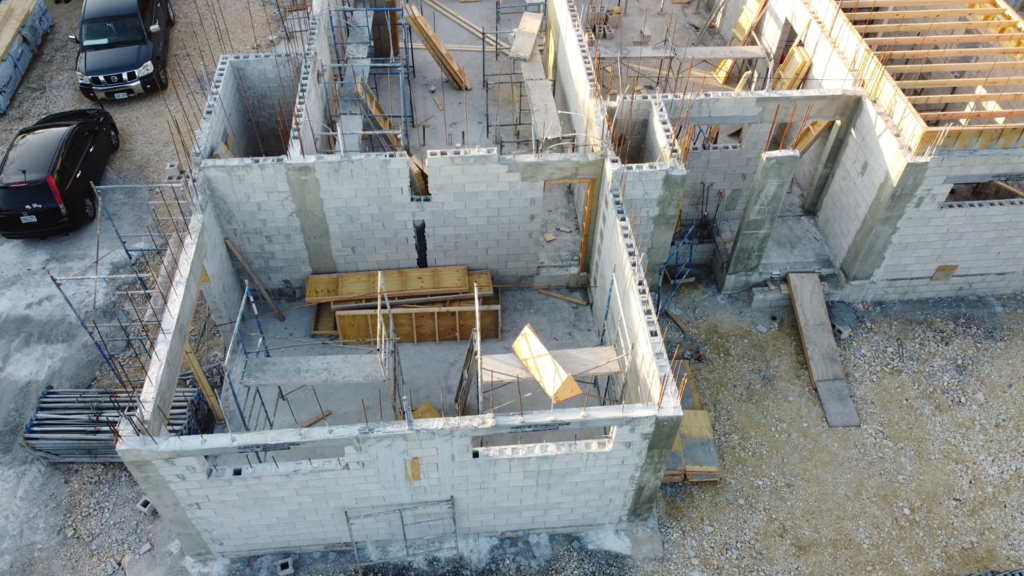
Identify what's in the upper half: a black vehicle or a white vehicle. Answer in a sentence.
The one visible in the upper half is a black vehicle.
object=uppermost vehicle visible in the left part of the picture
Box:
[59,0,173,101]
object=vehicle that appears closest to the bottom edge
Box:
[0,110,119,246]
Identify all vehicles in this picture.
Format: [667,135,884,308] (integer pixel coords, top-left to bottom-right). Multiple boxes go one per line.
[59,0,173,101]
[0,110,119,246]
